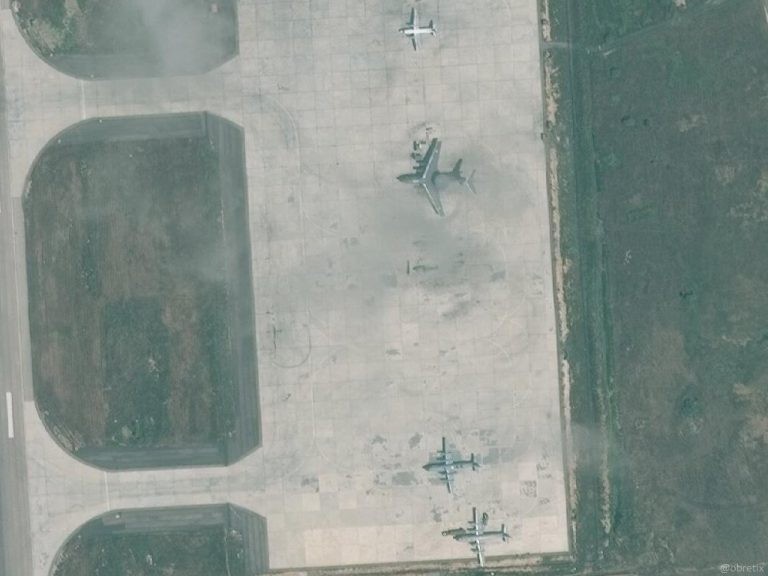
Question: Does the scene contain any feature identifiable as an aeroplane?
Yes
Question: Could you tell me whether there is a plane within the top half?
Yes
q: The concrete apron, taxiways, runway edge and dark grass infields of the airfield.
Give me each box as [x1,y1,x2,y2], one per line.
[0,0,568,576]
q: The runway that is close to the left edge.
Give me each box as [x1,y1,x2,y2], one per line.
[0,0,30,576]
